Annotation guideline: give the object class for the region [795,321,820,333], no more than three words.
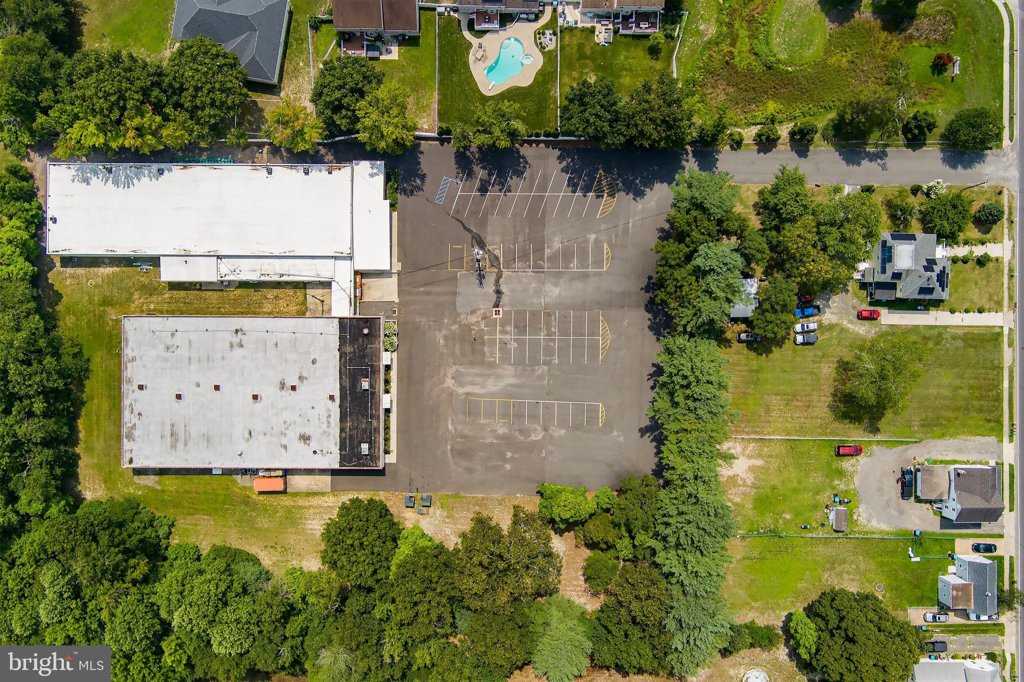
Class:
vehicle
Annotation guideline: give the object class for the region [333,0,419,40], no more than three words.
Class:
house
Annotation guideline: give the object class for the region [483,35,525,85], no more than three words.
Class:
swimming pool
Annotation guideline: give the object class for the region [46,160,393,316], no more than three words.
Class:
building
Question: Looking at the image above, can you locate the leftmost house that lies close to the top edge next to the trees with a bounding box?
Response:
[172,0,292,85]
